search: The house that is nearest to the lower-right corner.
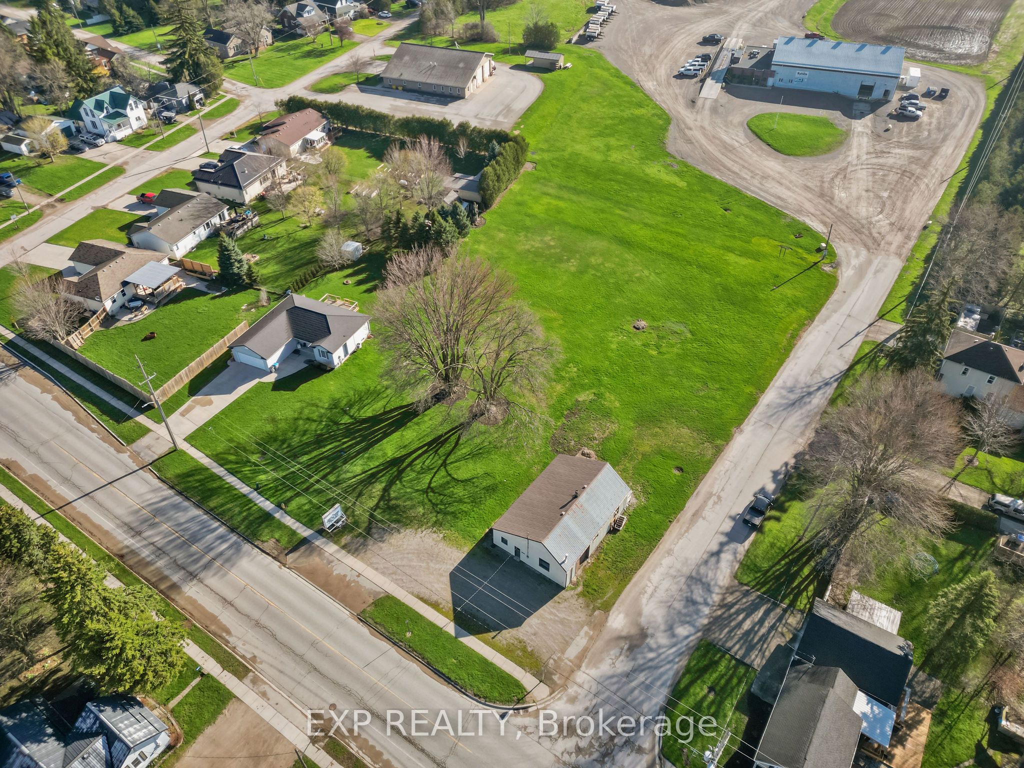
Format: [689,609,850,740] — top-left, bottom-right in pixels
[755,599,919,768]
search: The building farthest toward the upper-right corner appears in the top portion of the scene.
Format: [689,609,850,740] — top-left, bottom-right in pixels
[771,33,902,100]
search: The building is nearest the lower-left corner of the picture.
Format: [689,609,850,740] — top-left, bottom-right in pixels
[0,697,175,768]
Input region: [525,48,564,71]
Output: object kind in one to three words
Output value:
shed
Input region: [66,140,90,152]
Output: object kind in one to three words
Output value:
vehicle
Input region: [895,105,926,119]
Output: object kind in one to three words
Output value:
vehicle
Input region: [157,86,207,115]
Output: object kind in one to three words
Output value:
house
